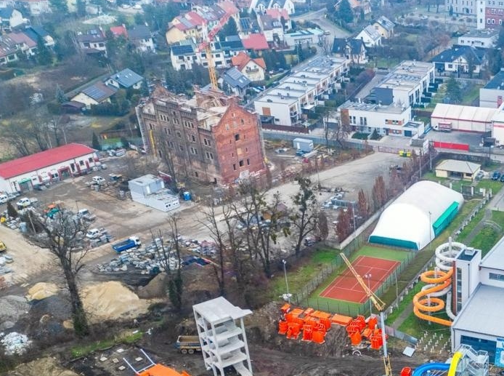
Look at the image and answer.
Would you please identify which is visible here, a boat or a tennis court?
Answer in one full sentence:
There is a tennis court in the scene.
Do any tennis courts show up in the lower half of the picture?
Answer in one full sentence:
Yes, looking in the lower half of the picture, one can make out a tennis court.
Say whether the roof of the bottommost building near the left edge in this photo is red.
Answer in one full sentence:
Yes, red is the color of the roof of the bottommost building near the left edge.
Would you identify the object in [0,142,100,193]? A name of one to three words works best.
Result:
building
